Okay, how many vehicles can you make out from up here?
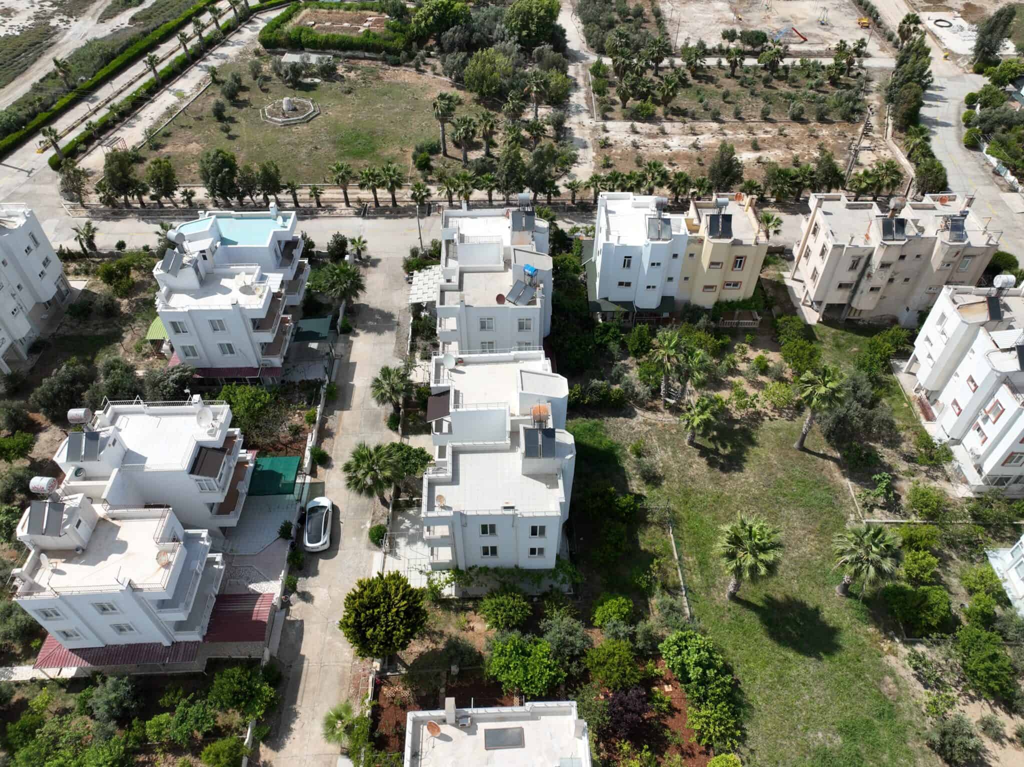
1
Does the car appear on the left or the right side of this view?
left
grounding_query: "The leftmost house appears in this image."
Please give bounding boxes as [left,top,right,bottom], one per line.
[0,201,76,369]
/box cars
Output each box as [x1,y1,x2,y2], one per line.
[303,497,335,555]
